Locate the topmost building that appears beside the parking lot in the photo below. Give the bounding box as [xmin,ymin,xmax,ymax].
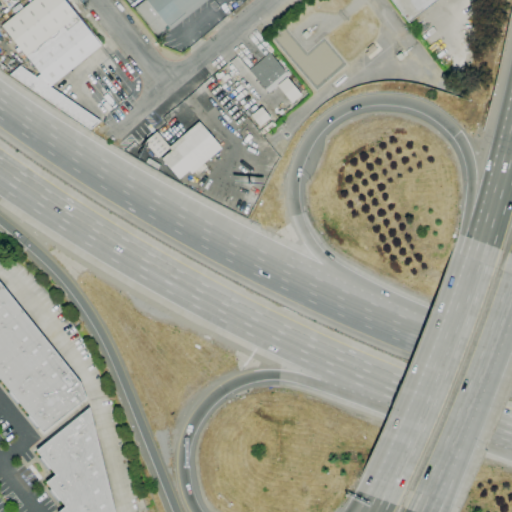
[0,279,89,434]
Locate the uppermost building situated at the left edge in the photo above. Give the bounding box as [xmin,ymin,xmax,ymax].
[2,0,103,86]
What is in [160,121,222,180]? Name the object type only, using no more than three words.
building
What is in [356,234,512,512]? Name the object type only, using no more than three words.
bridge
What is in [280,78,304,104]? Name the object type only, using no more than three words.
shed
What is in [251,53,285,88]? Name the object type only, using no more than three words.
building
